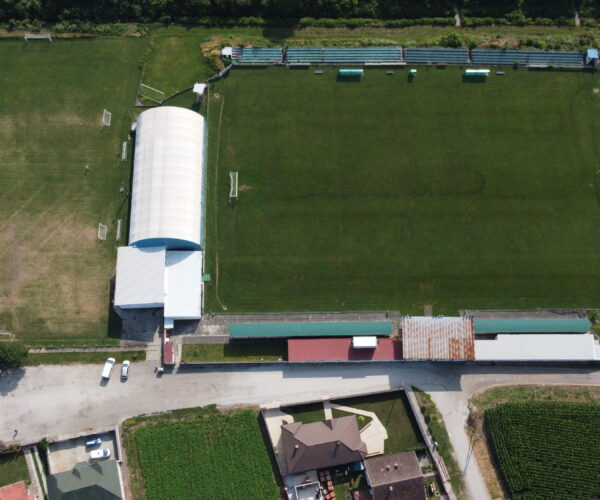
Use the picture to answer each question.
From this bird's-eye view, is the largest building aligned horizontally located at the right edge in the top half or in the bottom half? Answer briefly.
bottom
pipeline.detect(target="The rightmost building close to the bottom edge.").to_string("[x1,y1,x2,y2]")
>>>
[366,451,426,500]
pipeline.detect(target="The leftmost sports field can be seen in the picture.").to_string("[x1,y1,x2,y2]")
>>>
[0,38,147,349]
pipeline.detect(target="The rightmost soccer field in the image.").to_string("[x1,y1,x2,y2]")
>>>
[203,66,600,313]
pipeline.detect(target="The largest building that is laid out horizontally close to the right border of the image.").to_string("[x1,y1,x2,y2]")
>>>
[472,334,594,363]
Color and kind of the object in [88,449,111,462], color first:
white vehicle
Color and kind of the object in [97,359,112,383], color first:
white vehicle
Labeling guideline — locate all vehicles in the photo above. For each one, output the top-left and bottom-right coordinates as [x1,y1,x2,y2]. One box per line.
[119,362,129,382]
[97,359,112,383]
[84,438,103,450]
[88,449,111,462]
